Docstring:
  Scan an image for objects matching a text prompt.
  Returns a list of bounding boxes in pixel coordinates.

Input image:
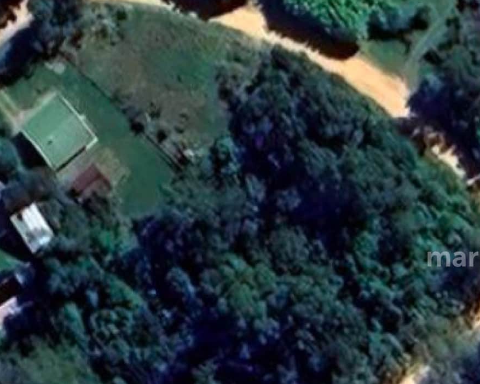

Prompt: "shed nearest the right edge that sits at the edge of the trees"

[73,164,111,201]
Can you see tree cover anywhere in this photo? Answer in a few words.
Yes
